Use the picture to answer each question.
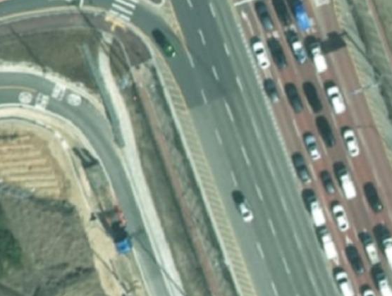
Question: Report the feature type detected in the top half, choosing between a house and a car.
car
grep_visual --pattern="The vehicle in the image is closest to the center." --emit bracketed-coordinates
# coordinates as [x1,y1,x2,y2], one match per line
[238,200,254,223]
